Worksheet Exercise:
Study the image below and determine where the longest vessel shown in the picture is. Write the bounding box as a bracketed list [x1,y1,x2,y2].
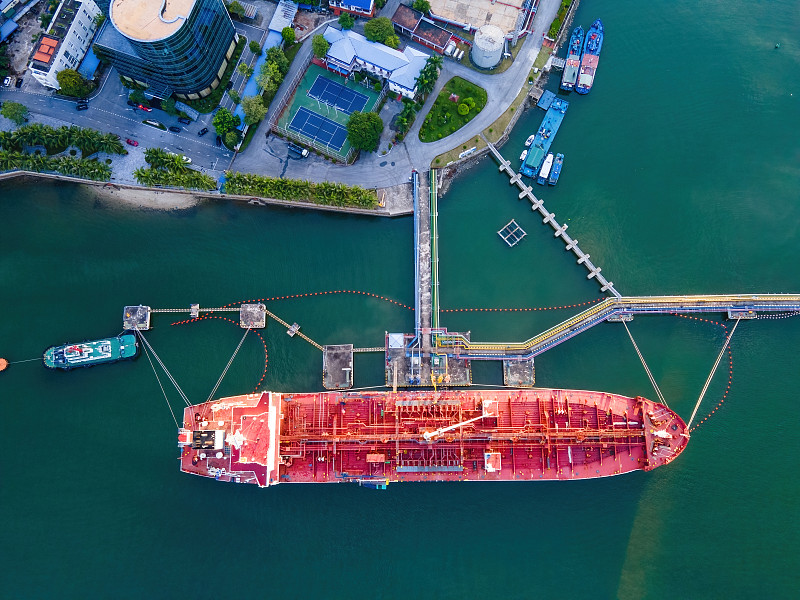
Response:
[173,390,695,488]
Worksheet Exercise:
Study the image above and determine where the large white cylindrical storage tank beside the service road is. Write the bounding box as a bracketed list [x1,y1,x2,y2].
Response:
[470,23,516,69]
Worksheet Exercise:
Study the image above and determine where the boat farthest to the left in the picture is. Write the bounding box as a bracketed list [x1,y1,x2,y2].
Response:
[42,332,141,371]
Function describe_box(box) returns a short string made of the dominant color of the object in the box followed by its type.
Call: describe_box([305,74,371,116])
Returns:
blue tennis court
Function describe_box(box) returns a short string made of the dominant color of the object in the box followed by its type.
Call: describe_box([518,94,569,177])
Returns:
blue ship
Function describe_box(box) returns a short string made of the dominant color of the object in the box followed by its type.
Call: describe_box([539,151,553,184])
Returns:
white boat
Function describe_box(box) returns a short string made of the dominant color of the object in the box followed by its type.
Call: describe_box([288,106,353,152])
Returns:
blue tennis court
